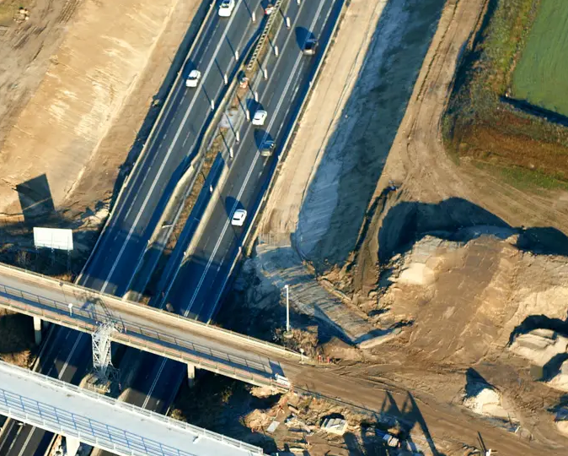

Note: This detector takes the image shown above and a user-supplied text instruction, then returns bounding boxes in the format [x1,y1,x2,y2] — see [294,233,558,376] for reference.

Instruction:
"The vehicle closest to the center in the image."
[229,208,247,229]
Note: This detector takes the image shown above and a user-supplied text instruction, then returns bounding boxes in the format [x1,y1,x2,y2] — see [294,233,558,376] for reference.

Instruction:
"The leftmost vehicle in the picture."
[187,69,202,88]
